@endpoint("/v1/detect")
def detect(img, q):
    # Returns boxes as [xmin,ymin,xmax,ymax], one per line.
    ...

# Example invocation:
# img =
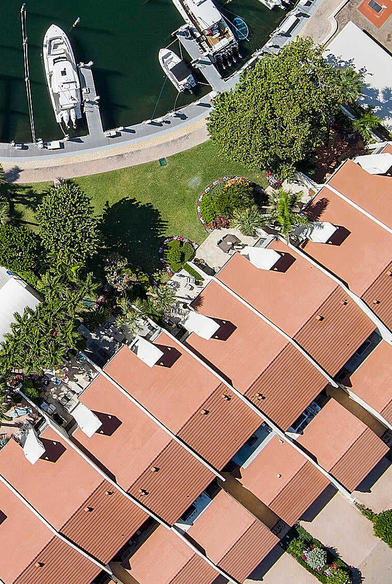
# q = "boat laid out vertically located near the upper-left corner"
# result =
[44,24,86,135]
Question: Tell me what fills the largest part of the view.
buildings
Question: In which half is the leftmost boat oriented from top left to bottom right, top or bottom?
top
